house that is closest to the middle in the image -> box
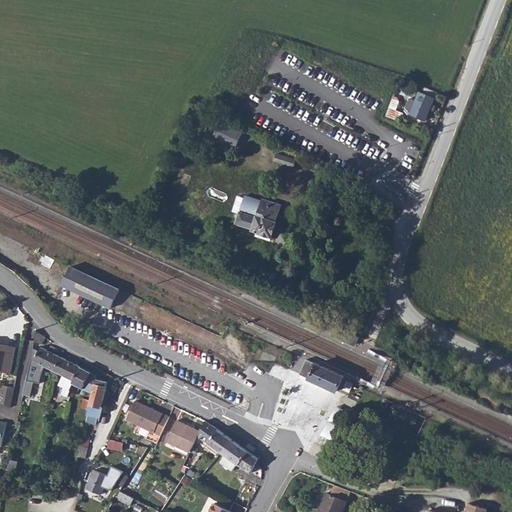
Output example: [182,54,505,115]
[232,196,281,243]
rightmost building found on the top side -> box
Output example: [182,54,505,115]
[405,92,434,120]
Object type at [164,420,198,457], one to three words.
house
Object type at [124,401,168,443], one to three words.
house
